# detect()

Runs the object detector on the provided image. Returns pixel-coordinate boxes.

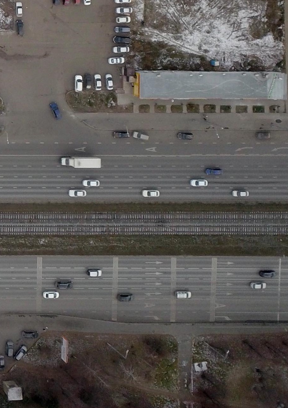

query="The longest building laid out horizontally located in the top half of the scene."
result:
[130,70,287,98]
